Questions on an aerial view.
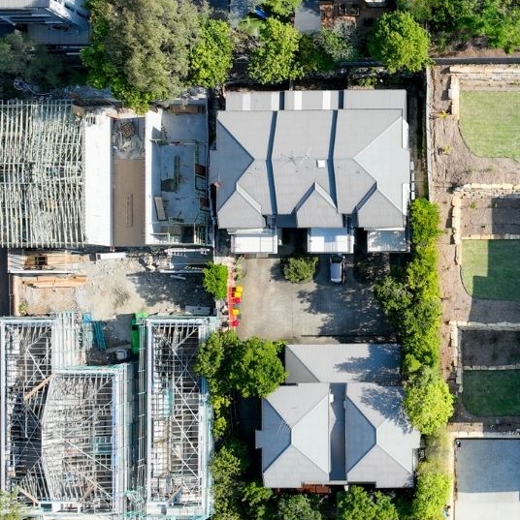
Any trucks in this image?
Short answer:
No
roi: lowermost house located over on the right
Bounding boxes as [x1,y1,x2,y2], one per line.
[255,343,422,494]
